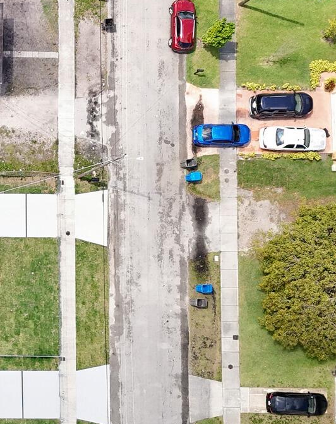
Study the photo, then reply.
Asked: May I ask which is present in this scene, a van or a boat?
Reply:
van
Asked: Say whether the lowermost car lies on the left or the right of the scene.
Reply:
right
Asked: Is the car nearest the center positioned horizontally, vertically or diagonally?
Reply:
horizontally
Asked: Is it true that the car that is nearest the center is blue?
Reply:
Yes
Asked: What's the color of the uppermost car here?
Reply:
red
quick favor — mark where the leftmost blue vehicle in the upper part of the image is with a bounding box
[193,122,252,149]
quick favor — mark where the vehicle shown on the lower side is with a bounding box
[265,390,328,418]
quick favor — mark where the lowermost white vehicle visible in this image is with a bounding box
[259,124,328,154]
